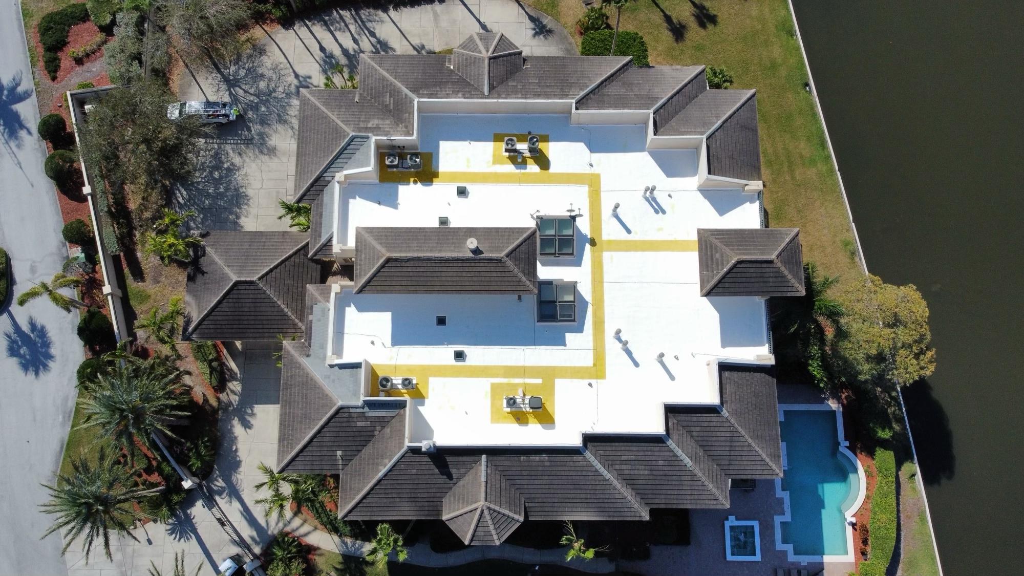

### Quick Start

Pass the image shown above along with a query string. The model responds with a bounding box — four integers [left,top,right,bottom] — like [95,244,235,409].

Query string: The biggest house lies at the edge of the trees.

[274,30,806,546]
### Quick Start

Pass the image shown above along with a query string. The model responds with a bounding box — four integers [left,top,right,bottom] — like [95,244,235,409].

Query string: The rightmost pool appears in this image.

[774,404,867,566]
